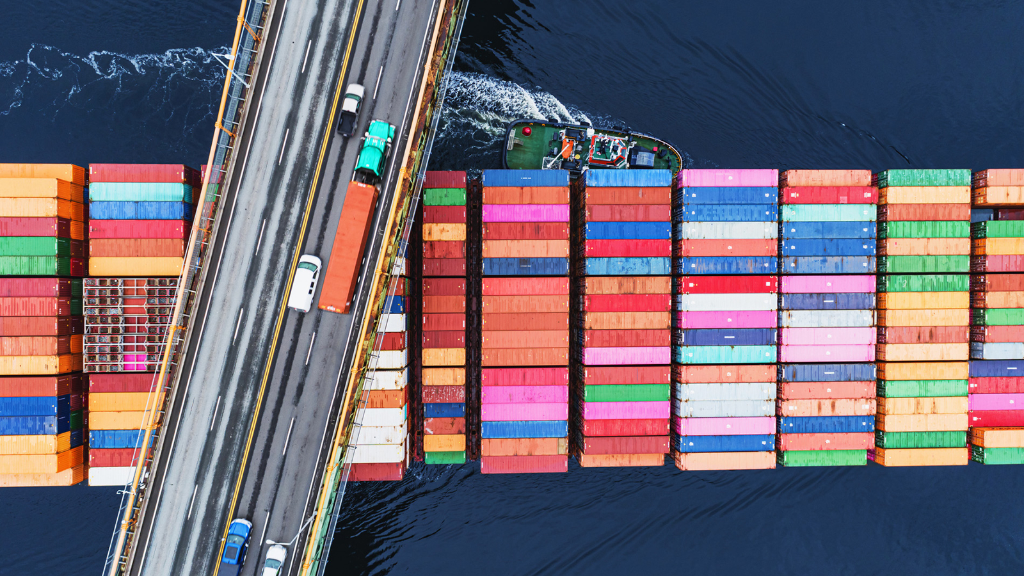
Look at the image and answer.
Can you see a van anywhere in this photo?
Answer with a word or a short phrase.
Yes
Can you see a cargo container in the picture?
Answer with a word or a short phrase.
Yes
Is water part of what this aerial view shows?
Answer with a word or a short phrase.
Yes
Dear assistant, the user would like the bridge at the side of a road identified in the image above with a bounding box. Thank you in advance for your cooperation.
[100,0,473,576]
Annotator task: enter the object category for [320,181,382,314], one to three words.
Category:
shipping container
